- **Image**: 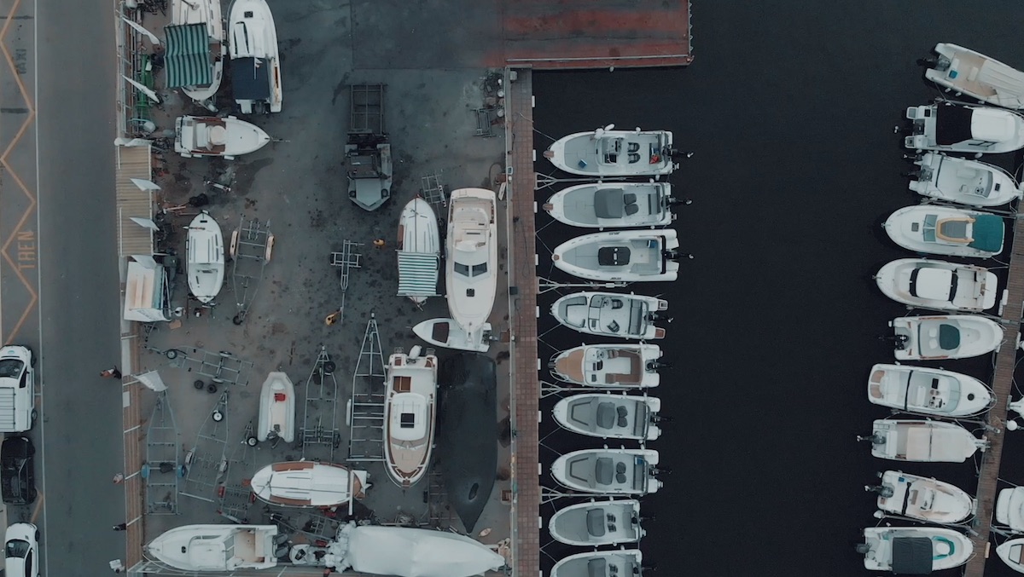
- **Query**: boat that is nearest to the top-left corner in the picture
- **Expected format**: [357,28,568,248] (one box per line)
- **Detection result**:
[164,0,229,112]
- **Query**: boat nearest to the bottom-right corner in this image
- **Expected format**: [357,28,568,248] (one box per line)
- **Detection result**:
[994,535,1024,571]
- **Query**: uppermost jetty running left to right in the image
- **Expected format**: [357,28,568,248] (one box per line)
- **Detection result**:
[502,0,695,74]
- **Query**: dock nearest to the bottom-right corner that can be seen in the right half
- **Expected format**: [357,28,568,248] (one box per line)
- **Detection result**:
[959,143,1024,577]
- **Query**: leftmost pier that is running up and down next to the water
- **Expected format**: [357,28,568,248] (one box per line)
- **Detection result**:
[513,70,548,577]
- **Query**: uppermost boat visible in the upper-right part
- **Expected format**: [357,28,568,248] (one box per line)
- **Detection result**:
[919,43,1024,110]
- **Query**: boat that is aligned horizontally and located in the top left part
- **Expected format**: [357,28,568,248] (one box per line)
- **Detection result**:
[175,115,289,161]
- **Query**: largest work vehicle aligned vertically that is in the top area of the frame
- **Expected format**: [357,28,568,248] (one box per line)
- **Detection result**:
[345,83,394,212]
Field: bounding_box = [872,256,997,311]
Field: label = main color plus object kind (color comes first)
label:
white boat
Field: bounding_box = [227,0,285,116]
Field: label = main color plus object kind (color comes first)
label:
white boat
